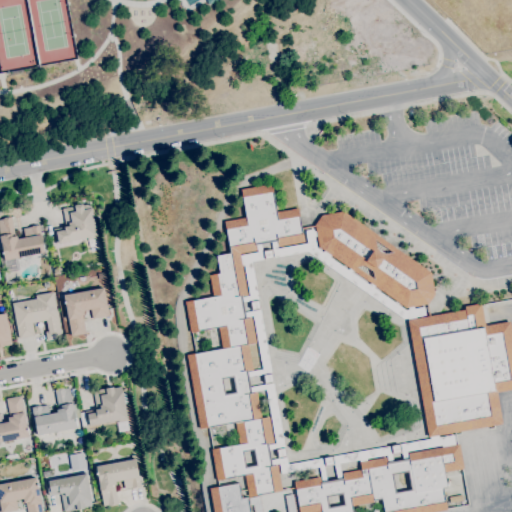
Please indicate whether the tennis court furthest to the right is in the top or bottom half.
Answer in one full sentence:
Seen from above, the tennis court furthest to the right lies in the top half of the view.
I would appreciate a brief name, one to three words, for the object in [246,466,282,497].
building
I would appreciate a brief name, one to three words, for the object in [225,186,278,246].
building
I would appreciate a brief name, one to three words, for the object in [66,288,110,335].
house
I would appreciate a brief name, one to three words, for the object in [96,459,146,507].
house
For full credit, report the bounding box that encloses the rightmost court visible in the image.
[28,0,76,64]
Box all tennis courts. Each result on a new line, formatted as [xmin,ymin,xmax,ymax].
[28,0,76,64]
[0,0,40,72]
